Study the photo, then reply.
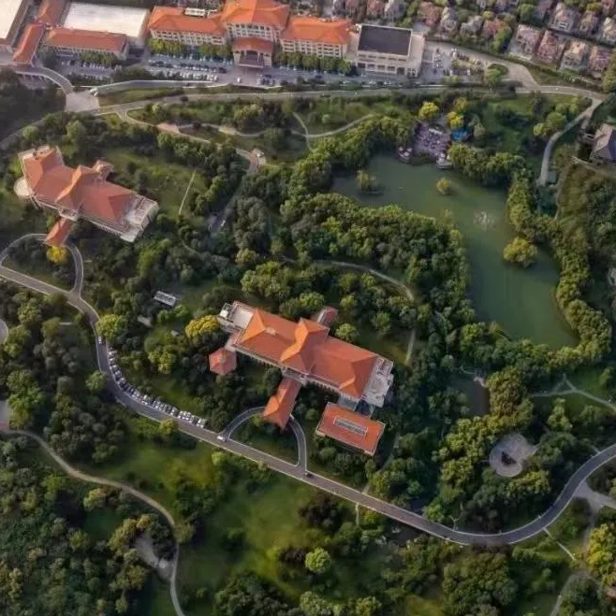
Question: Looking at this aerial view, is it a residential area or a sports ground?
residential area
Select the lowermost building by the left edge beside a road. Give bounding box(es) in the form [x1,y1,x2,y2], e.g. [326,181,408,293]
[8,147,165,250]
